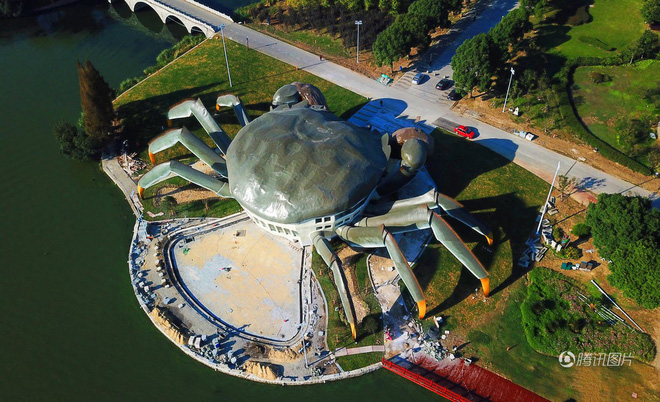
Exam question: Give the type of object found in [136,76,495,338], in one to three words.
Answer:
building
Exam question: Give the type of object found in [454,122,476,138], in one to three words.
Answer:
car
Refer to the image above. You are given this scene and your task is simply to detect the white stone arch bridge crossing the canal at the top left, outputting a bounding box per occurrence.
[113,0,249,41]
